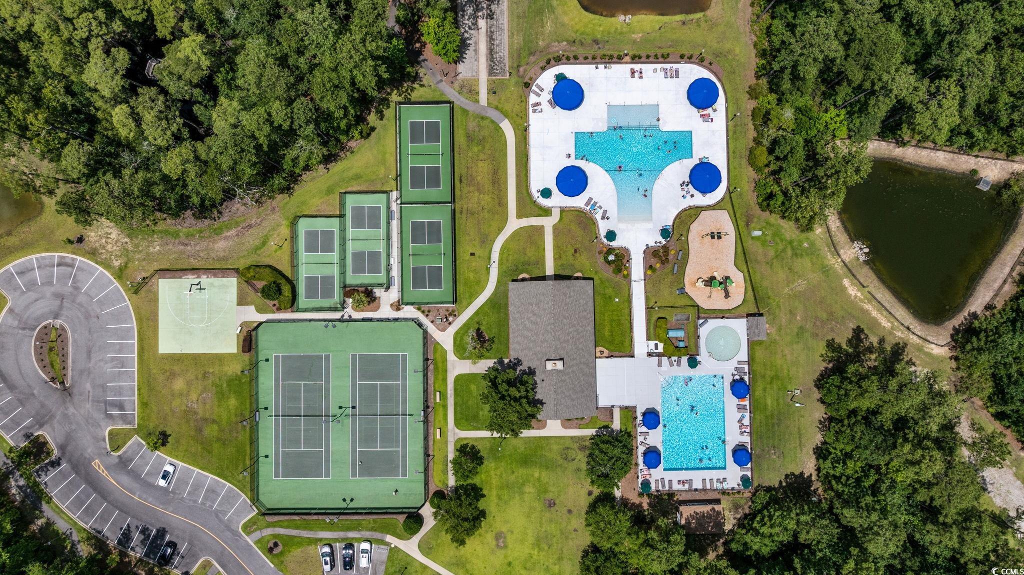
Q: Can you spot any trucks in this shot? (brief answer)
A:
No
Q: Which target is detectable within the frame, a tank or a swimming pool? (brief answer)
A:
swimming pool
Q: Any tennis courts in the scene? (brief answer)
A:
Yes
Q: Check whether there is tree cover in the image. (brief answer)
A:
Yes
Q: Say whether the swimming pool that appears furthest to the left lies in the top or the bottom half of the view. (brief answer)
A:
top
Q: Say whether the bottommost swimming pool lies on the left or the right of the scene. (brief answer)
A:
right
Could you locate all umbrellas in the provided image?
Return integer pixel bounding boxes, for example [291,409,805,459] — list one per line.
[689,161,721,193]
[660,228,671,239]
[641,482,652,493]
[552,78,584,110]
[732,381,749,398]
[687,358,698,368]
[556,165,588,197]
[605,230,616,241]
[643,450,661,468]
[687,77,718,110]
[733,449,751,466]
[741,479,752,489]
[541,188,551,198]
[556,73,566,82]
[642,411,660,429]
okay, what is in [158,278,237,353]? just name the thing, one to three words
basketball court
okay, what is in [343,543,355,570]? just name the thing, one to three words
vehicle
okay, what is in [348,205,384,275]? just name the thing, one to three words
sports court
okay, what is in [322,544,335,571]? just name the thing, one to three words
vehicle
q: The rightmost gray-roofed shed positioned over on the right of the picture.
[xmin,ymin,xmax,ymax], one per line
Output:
[744,316,767,341]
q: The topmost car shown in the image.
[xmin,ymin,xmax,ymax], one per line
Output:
[158,462,177,487]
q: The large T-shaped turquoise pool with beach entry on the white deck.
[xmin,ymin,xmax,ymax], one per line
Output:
[574,102,694,223]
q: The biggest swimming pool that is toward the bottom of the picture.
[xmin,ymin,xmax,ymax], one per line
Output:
[660,374,729,472]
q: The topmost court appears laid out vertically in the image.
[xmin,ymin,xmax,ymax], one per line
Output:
[407,120,442,190]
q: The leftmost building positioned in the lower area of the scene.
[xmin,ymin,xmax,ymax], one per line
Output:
[509,280,597,420]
